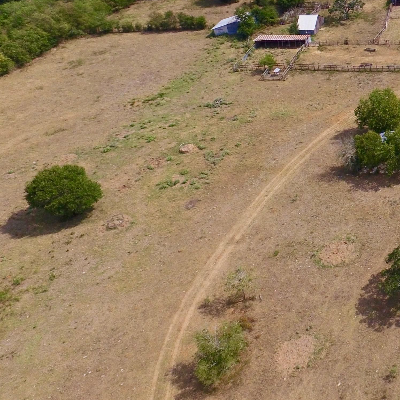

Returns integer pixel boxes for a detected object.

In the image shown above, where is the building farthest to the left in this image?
[211,10,264,36]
